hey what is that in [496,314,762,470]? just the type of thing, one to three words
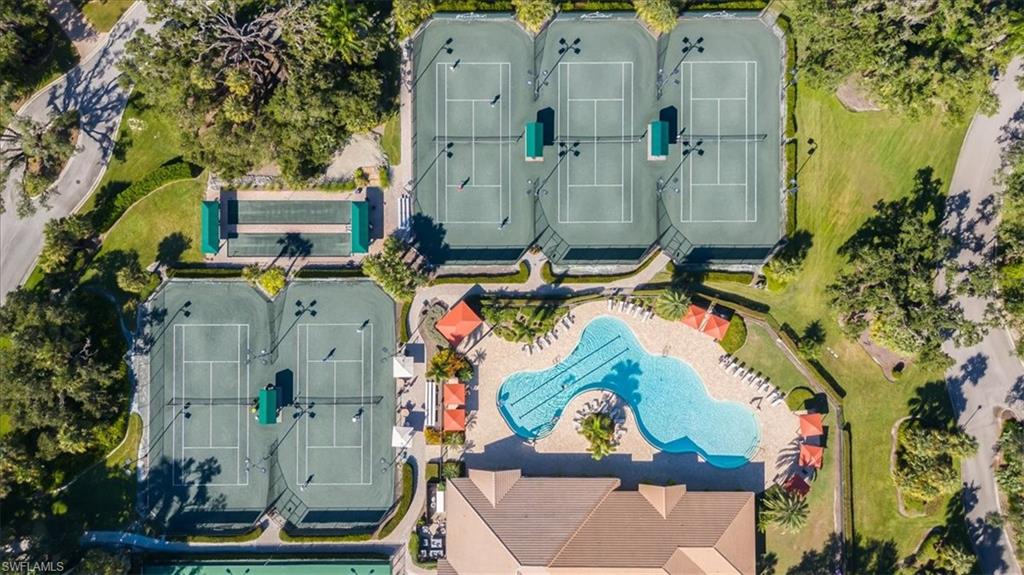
swimming pool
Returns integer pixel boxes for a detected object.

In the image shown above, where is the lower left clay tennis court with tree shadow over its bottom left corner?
[150,281,271,528]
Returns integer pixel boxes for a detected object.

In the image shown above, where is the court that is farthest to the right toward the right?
[657,18,784,265]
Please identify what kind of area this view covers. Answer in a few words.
sports ground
